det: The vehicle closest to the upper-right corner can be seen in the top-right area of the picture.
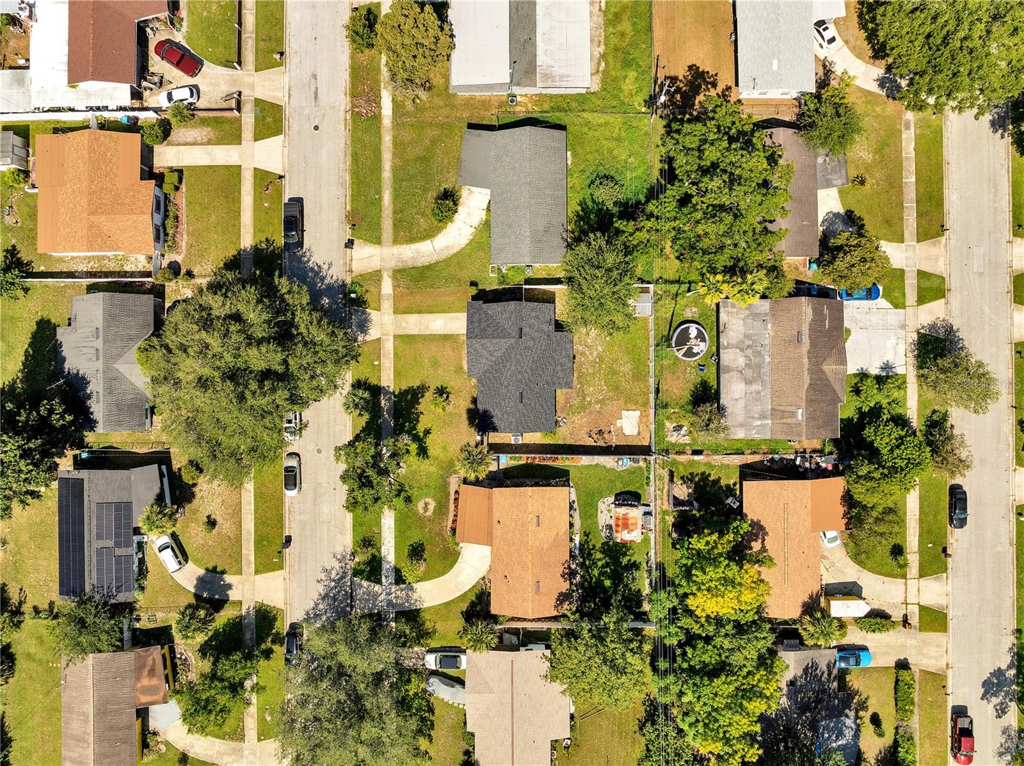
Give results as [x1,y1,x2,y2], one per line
[815,18,841,59]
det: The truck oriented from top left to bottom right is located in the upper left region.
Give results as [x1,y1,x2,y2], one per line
[154,39,209,82]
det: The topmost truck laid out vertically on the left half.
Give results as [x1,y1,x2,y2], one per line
[281,202,304,252]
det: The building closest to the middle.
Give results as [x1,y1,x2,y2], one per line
[467,302,574,434]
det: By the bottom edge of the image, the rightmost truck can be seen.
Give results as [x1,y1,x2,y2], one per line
[948,713,975,765]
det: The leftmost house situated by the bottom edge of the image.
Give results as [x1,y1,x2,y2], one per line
[62,618,174,766]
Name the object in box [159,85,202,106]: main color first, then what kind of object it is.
white car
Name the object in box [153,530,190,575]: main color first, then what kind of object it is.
white car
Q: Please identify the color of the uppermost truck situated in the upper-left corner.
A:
red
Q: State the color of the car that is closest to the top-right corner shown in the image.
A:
white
